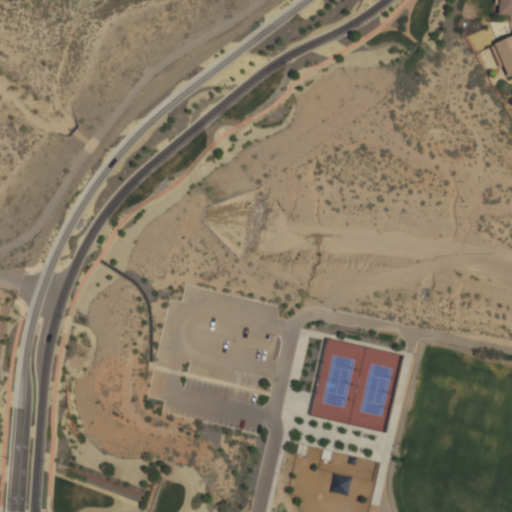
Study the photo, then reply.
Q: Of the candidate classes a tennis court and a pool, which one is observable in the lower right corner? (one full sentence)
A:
Looking in the lower right corner, you will find a tennis court.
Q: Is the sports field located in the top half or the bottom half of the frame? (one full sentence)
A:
The sports field sits in the bottom half of the picture.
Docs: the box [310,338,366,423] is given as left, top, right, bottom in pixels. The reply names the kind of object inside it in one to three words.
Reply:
tennis court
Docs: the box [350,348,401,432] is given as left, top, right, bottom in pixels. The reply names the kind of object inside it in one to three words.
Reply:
tennis court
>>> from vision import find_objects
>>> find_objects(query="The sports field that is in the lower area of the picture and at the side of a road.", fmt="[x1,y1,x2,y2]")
[394,346,512,512]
